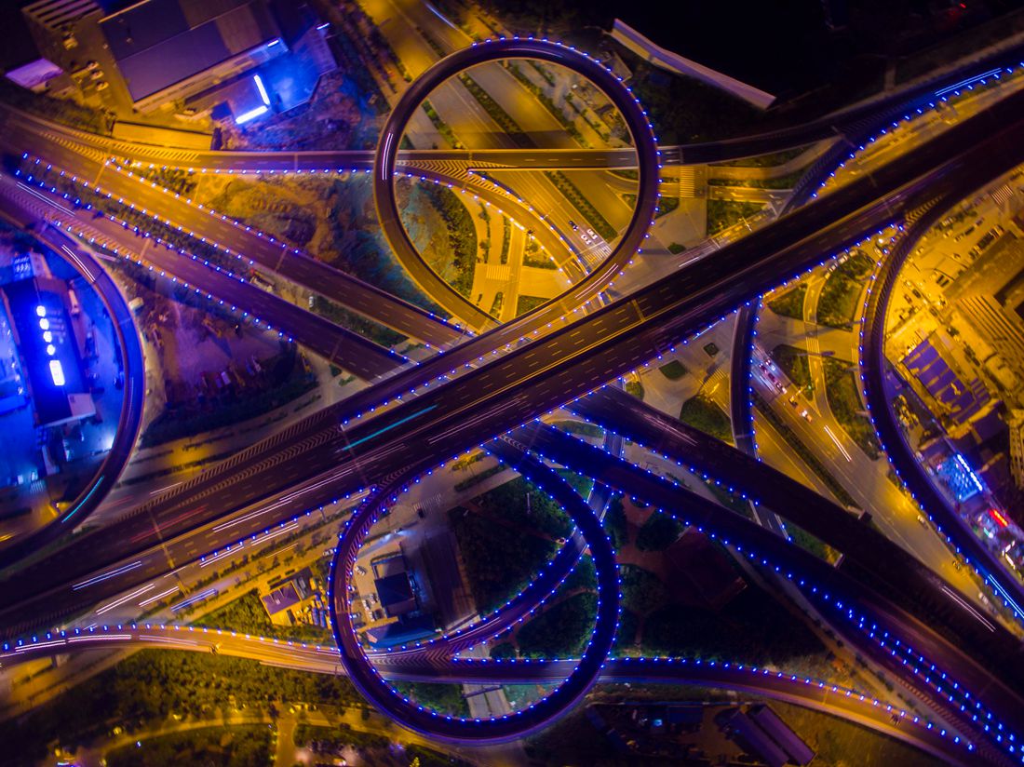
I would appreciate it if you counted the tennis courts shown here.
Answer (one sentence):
I count no tennis courts.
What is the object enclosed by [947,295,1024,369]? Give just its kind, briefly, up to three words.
building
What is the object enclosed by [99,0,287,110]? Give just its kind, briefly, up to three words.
building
